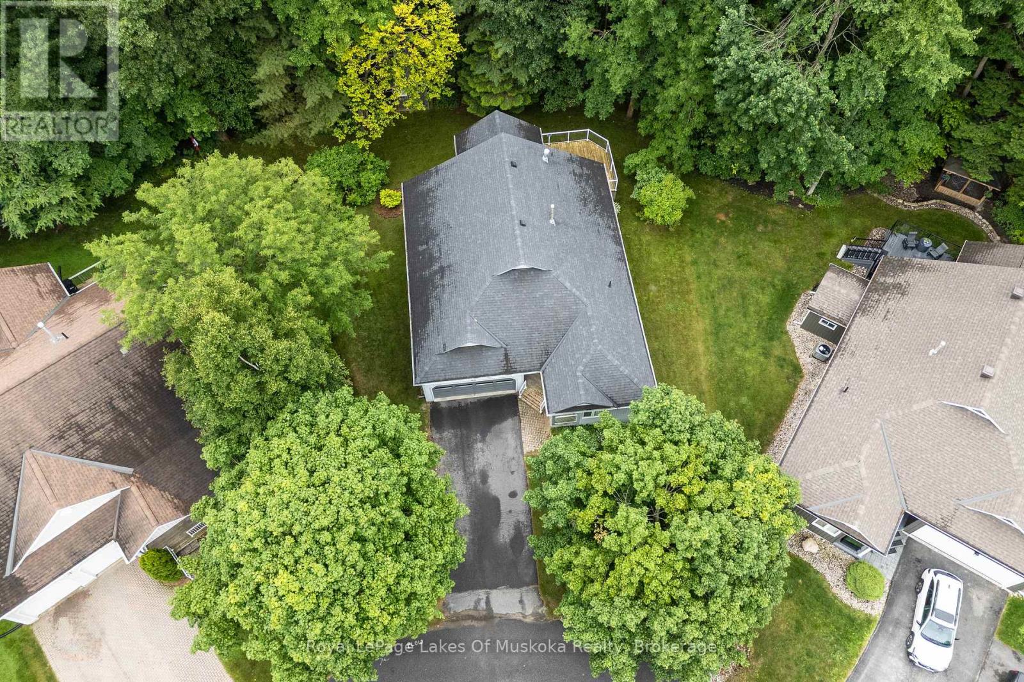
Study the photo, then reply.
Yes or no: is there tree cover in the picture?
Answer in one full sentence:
Yes, the picture does contain tree cover.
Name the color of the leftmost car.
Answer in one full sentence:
From above, the leftmost car appears white.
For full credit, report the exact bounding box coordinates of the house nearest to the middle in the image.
[401,111,662,429]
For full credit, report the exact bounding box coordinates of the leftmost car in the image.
[901,570,964,669]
